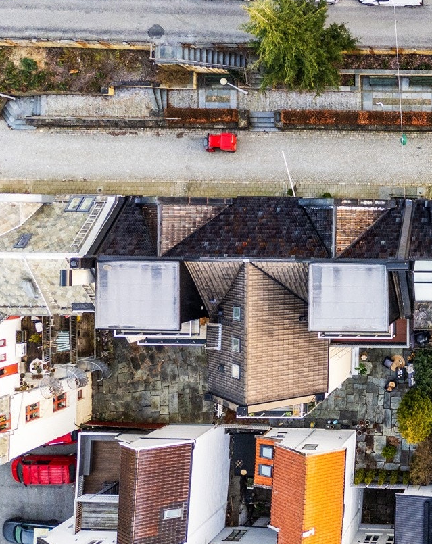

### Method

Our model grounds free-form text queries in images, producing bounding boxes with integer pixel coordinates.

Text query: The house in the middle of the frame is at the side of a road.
[84,194,416,418]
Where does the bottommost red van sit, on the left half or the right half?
left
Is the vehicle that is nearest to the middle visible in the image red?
Yes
